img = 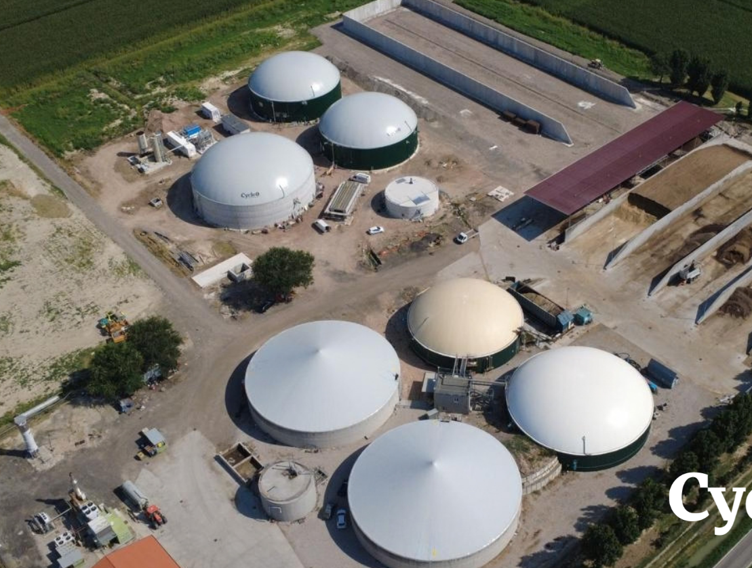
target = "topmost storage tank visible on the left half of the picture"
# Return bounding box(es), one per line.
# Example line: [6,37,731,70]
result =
[248,50,347,123]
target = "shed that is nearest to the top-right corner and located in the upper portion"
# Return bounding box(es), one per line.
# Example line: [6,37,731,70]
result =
[523,100,725,229]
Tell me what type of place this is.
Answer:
industrial area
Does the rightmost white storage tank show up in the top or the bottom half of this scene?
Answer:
bottom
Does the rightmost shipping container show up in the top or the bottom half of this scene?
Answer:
bottom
